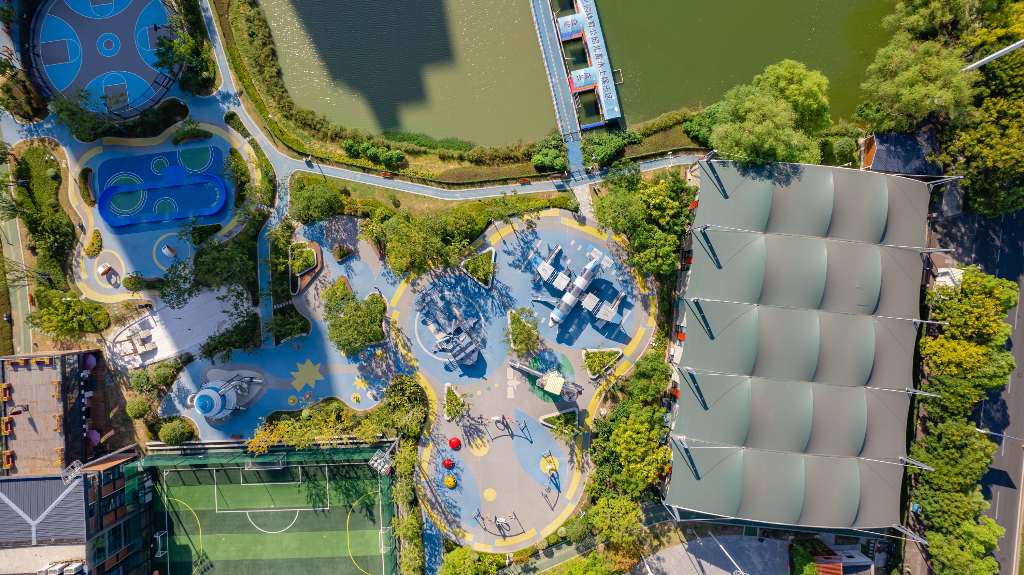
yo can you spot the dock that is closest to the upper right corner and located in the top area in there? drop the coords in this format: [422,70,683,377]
[557,0,621,130]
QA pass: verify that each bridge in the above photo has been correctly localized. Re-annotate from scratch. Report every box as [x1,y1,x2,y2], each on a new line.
[528,0,586,170]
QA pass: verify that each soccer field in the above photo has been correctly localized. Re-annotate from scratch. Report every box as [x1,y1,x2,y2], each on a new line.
[153,449,400,575]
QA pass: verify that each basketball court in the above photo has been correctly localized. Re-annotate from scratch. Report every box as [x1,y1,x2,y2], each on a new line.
[30,0,186,123]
